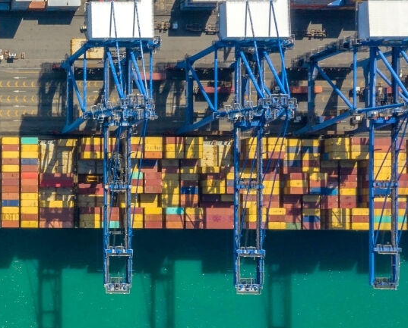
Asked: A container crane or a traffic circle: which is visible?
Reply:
container crane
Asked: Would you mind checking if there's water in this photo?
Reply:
Yes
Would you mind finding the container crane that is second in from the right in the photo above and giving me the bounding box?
[158,0,298,293]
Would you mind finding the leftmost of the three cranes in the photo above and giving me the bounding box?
[45,0,157,292]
